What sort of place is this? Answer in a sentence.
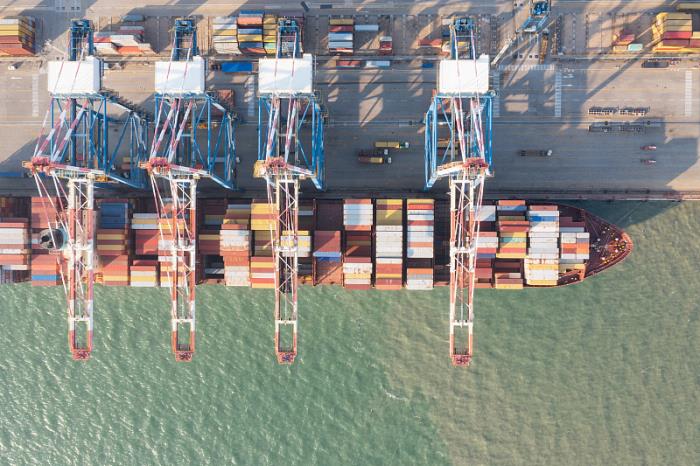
The area seen from above is a port.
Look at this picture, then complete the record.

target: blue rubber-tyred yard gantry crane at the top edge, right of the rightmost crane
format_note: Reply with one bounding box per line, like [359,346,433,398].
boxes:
[518,0,554,35]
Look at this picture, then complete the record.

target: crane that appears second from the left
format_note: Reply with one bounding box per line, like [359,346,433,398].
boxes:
[139,18,239,363]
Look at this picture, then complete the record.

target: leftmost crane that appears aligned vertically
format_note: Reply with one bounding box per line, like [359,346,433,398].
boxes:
[20,18,150,363]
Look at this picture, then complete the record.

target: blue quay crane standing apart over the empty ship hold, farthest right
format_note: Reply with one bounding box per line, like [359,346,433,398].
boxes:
[416,18,494,363]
